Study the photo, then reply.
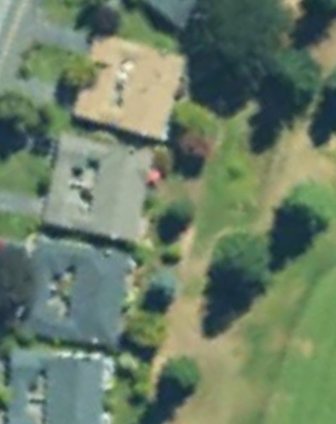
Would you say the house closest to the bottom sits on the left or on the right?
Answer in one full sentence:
The house closest to the bottom sits on the left side.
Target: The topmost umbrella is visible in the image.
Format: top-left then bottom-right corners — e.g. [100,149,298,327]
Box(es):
[146,168,160,182]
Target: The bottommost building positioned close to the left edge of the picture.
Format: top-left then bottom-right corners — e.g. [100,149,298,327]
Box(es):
[8,349,113,424]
